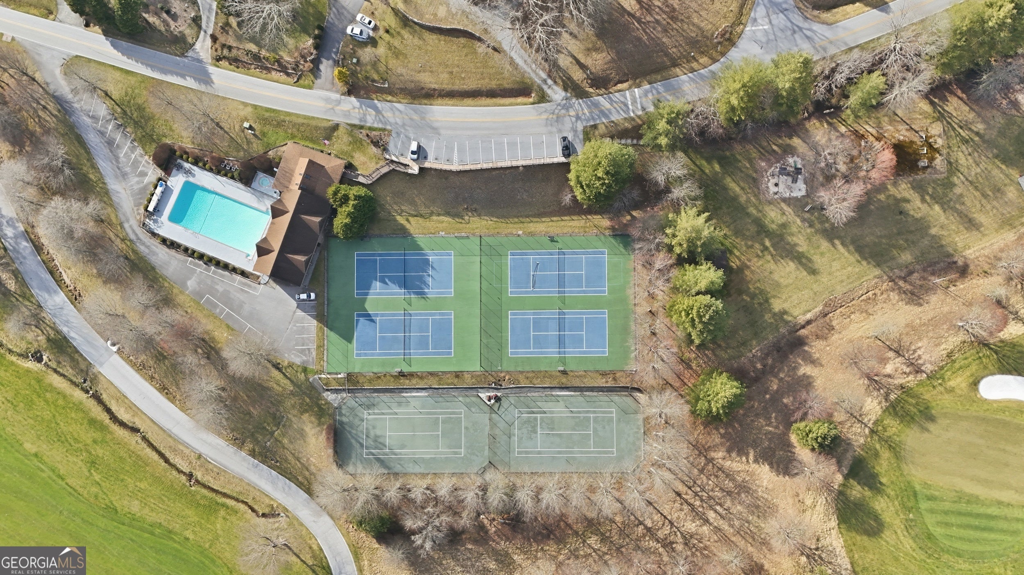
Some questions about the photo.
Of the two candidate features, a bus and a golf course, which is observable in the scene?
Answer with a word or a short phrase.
golf course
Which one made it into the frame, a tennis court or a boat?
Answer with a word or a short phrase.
tennis court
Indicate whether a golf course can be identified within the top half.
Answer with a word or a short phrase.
No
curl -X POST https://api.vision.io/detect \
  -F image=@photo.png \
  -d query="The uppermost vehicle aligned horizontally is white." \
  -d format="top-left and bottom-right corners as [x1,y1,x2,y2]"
[346,27,369,39]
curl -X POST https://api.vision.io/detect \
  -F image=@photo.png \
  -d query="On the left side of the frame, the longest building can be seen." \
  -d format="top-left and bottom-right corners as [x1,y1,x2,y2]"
[254,142,346,285]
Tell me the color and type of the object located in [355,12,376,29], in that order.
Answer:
white car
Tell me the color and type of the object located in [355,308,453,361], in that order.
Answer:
blue tennis court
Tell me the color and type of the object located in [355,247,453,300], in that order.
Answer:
blue tennis court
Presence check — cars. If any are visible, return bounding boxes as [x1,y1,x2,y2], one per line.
[355,12,376,29]
[295,291,316,300]
[560,135,570,157]
[409,139,420,161]
[346,27,369,39]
